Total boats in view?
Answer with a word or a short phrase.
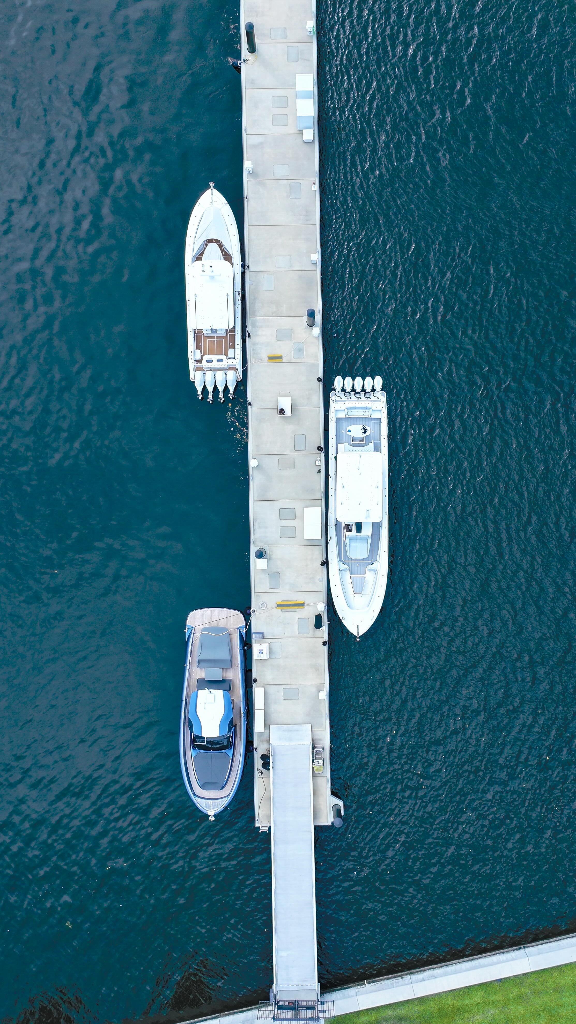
3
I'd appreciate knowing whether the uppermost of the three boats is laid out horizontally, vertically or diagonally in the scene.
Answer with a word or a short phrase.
vertically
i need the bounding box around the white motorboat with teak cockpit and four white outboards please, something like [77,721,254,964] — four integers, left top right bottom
[185,181,242,404]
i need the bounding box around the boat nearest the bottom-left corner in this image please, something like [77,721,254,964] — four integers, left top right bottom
[178,606,247,821]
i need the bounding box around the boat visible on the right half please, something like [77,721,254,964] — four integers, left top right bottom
[328,377,389,642]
